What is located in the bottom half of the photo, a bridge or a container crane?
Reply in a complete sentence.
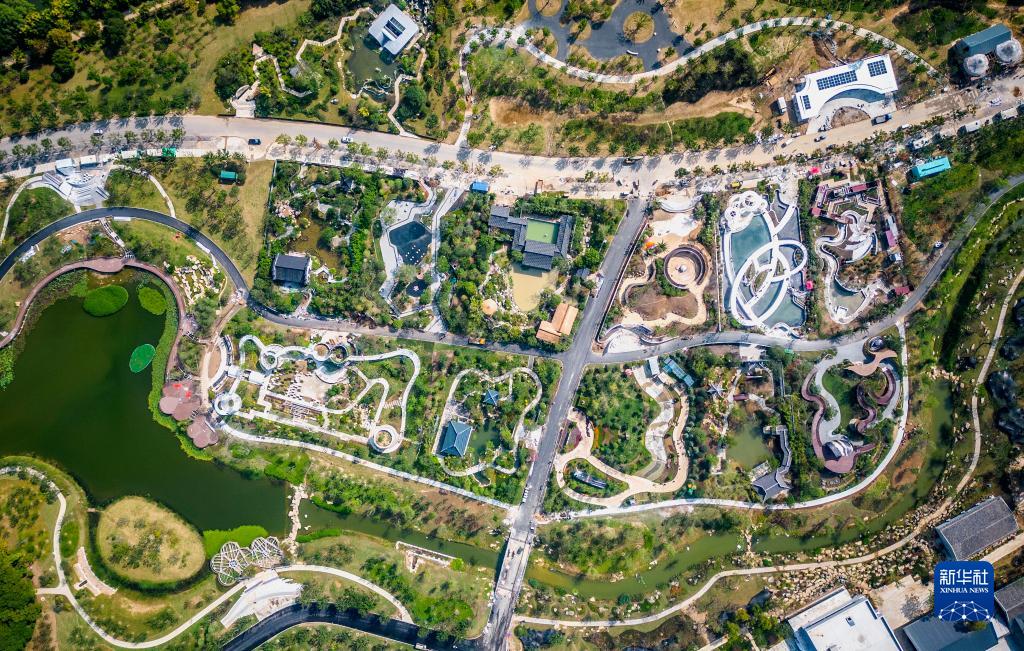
Looking in the bottom half of the photo, you will find a bridge.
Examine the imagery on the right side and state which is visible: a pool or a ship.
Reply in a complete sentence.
You can see a pool on the right side.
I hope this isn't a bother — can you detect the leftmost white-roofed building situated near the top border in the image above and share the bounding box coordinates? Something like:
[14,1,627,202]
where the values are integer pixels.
[369,2,423,55]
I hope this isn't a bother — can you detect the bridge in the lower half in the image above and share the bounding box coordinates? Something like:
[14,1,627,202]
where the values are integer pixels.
[496,517,532,603]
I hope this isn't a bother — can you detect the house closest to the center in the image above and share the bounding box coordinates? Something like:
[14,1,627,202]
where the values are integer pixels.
[537,303,578,344]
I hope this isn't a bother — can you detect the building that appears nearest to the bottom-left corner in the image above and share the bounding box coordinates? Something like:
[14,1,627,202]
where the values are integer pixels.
[209,540,253,587]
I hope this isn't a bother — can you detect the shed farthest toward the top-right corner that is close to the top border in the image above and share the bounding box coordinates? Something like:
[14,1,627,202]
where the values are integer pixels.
[951,23,1012,58]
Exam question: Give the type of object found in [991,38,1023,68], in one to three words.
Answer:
storage tank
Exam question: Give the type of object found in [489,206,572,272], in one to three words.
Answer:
house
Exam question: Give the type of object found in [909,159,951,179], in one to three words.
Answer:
shed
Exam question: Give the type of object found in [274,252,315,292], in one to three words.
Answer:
building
